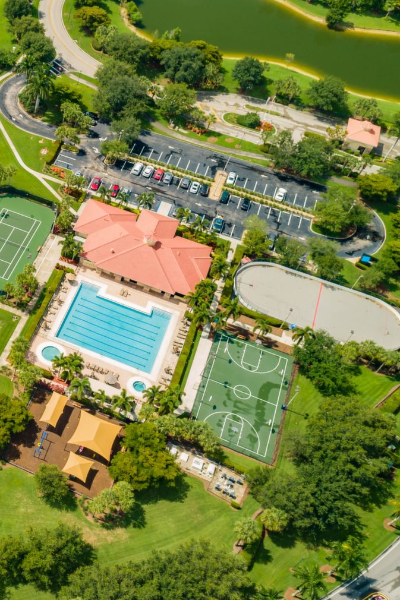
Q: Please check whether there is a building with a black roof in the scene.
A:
No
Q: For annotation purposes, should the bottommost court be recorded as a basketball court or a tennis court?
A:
basketball court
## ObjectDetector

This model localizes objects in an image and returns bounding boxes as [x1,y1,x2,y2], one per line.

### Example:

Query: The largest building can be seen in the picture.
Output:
[74,199,213,303]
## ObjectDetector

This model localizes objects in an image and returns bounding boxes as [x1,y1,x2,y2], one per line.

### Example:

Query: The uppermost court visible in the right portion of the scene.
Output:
[235,261,400,354]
